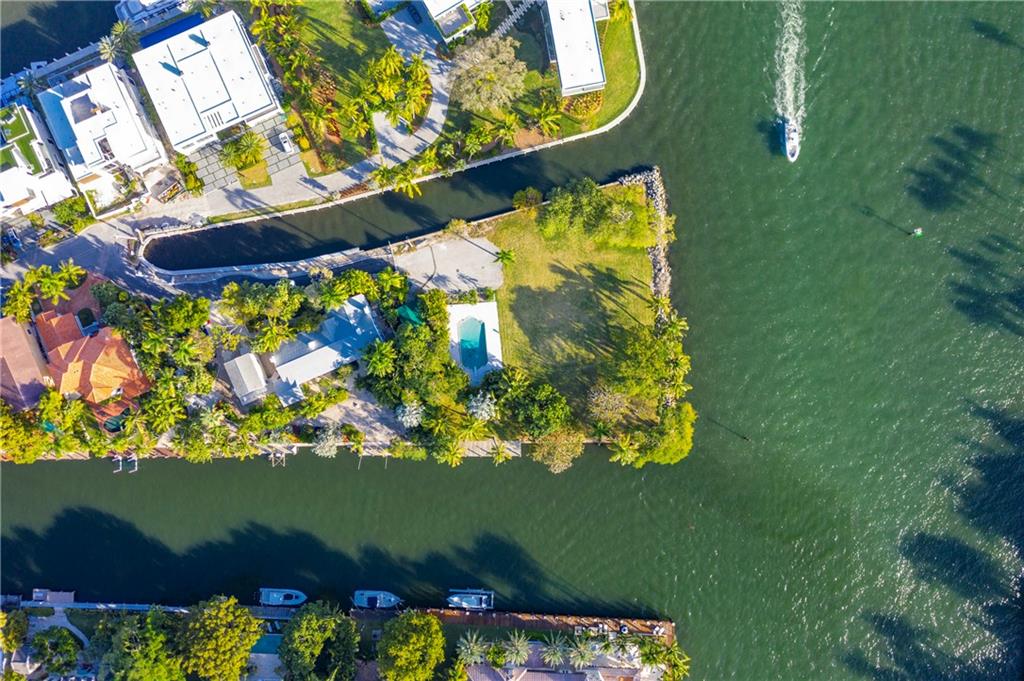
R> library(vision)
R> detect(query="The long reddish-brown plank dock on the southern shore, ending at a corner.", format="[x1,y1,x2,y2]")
[424,609,675,648]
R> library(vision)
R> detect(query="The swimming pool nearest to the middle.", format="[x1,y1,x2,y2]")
[447,302,503,387]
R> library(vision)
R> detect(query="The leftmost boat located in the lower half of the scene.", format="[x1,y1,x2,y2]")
[258,588,306,605]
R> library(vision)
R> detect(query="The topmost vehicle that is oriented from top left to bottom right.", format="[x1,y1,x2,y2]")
[405,2,425,26]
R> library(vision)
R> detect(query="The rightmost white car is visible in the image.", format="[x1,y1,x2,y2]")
[277,131,296,154]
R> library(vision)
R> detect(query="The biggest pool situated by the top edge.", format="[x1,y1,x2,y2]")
[137,10,208,49]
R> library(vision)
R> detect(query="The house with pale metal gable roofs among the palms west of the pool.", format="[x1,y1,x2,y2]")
[266,294,384,406]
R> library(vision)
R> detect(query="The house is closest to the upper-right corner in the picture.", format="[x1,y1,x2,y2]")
[544,0,609,102]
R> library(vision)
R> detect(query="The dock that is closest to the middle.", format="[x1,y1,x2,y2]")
[460,444,521,458]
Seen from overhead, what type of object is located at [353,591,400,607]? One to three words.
boat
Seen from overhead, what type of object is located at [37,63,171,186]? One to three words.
house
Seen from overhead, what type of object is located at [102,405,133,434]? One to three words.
swimming pool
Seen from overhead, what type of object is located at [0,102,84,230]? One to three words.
house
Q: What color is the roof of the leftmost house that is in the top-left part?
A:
white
